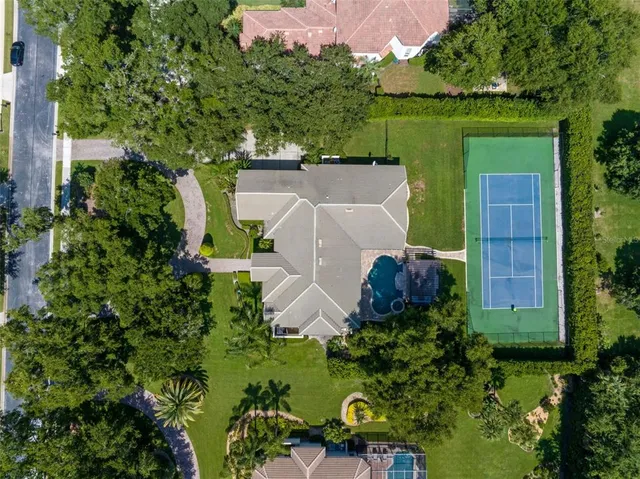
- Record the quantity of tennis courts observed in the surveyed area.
1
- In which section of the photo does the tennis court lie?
right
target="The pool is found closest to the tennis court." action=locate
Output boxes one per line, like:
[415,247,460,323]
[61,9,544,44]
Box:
[366,254,405,316]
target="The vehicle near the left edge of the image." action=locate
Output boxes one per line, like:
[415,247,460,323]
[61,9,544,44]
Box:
[11,41,27,66]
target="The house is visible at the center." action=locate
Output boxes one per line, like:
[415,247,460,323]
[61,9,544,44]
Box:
[236,164,409,338]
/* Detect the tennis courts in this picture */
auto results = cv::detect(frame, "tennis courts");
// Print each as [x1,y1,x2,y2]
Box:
[464,136,558,344]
